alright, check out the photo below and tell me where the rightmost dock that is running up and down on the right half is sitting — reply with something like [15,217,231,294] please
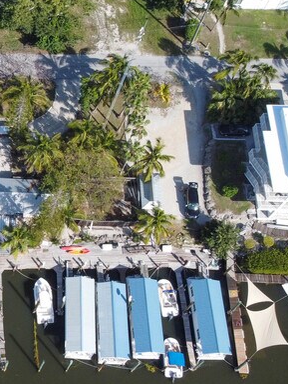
[225,255,250,373]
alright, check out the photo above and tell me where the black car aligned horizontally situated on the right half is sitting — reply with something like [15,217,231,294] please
[215,122,252,137]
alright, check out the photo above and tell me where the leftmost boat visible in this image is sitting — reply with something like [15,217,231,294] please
[34,278,53,333]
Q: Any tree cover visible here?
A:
Yes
